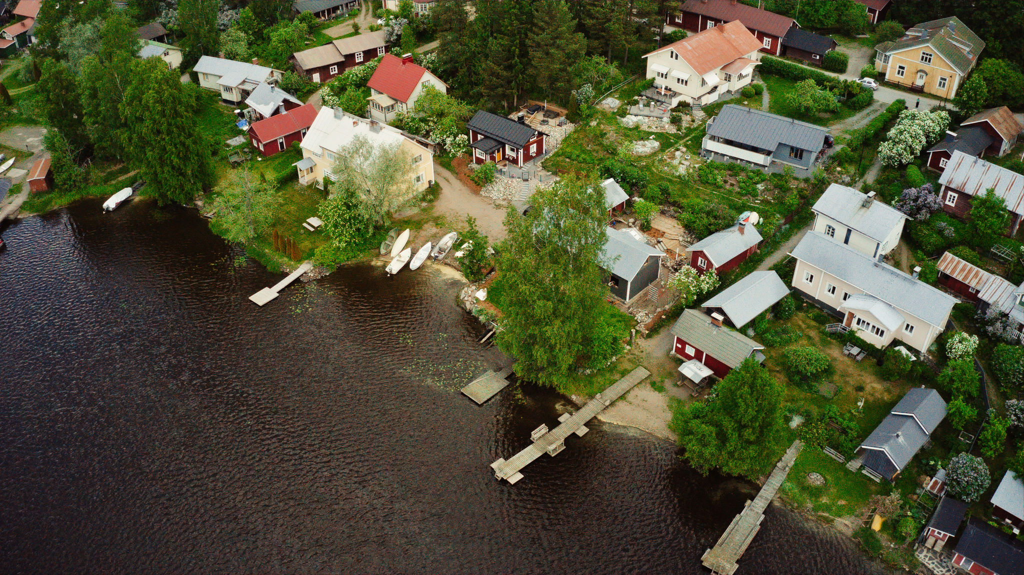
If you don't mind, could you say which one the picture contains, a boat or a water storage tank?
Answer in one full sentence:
Visible in the photo is a boat.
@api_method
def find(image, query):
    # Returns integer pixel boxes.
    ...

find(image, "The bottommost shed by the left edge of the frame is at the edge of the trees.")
[26,158,54,193]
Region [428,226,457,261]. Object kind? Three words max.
boat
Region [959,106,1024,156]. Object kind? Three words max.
barn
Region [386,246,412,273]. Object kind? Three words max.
boat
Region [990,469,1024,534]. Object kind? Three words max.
shed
